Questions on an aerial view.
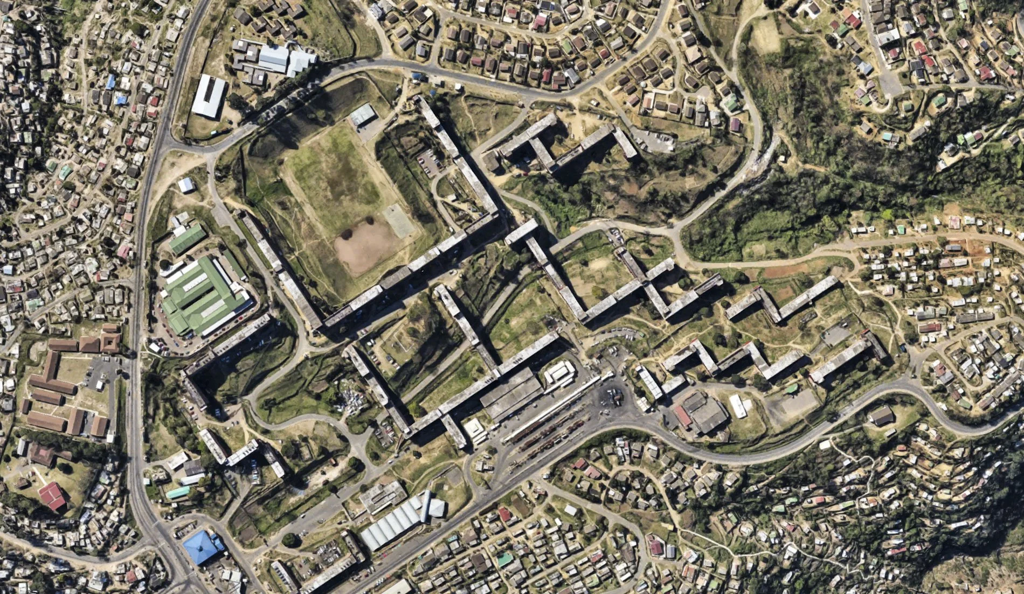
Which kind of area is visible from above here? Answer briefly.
residential area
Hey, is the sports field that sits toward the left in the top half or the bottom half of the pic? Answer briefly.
top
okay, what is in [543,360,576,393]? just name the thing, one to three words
building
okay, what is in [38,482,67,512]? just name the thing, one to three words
building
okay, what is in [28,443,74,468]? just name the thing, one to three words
house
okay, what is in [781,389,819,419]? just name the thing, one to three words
sports court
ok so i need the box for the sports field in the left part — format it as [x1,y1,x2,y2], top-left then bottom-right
[281,121,405,276]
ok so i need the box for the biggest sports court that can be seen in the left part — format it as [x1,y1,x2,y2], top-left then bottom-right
[383,204,415,239]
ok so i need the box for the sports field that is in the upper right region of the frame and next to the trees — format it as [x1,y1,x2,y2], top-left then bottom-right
[753,20,780,55]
